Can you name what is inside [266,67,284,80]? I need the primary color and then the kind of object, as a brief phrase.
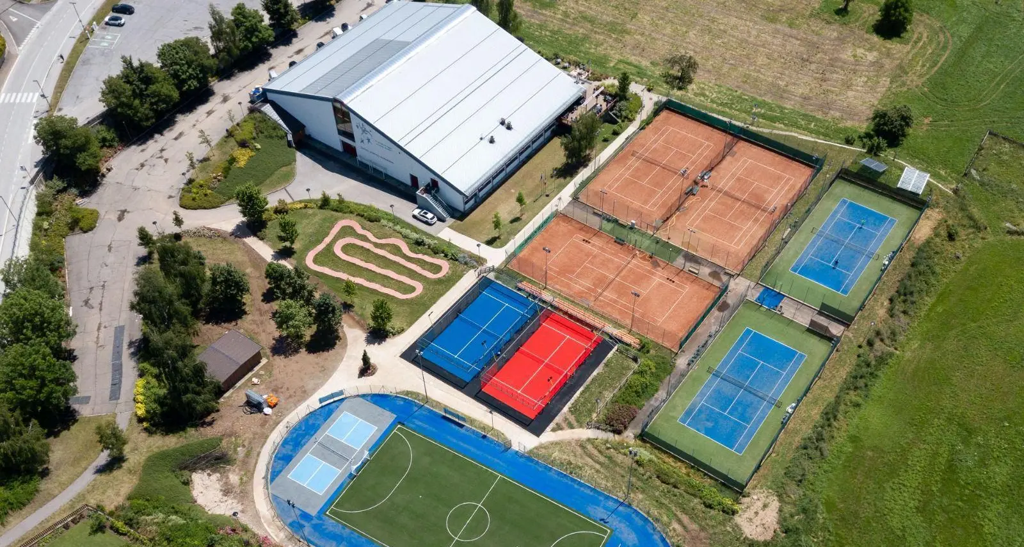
white vehicle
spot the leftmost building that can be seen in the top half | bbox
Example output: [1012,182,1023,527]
[263,3,584,213]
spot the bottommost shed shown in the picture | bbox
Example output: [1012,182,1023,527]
[194,322,260,383]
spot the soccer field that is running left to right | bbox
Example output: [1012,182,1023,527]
[323,422,616,547]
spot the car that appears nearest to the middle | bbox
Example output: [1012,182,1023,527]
[413,209,437,224]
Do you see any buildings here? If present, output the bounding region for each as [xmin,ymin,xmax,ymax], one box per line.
[194,322,260,383]
[263,3,584,213]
